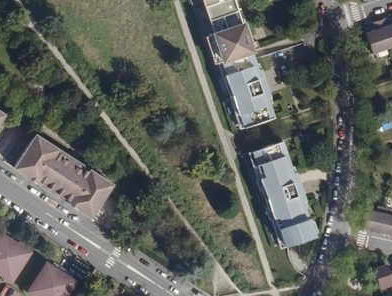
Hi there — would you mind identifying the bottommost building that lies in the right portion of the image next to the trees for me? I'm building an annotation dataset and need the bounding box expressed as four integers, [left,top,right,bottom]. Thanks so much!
[373,264,392,290]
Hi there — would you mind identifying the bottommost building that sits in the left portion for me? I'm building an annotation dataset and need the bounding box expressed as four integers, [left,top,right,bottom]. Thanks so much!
[26,262,78,296]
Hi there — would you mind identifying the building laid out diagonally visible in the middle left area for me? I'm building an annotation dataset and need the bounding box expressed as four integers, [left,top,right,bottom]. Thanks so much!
[15,134,116,222]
